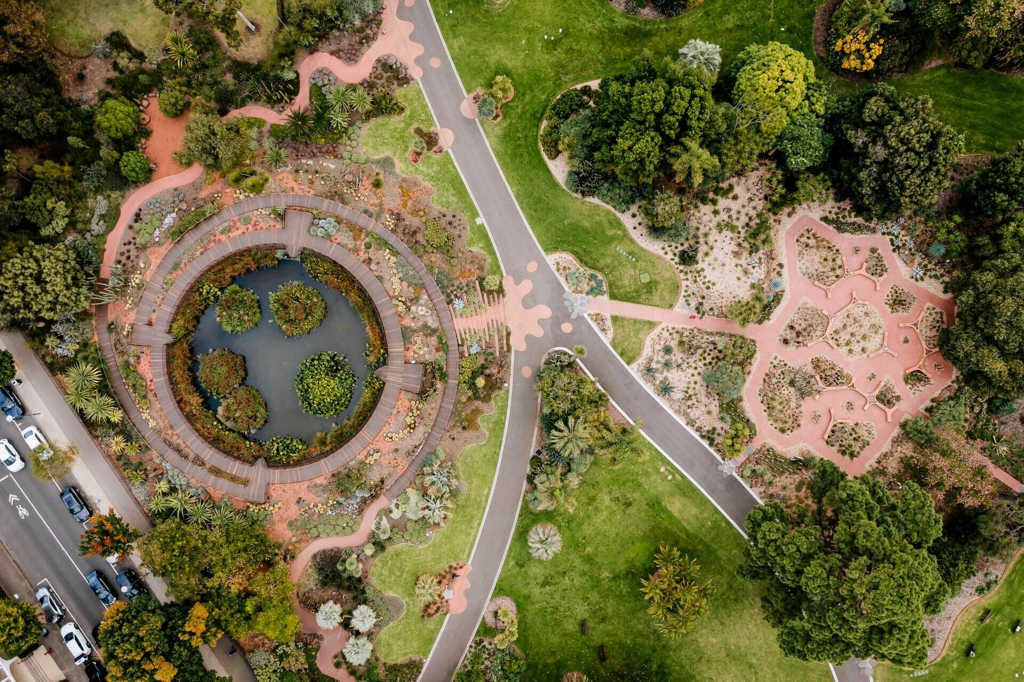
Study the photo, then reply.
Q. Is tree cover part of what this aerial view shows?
Yes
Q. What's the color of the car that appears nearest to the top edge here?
blue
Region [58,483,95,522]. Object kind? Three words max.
car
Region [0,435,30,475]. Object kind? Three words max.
car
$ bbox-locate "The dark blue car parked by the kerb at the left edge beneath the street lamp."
[0,385,28,426]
